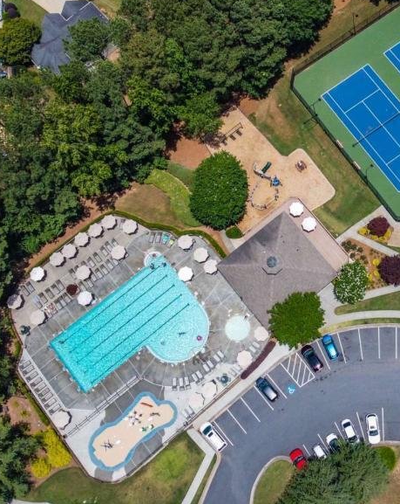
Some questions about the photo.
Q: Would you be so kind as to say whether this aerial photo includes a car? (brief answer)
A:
Yes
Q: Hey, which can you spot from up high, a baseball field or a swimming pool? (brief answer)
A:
swimming pool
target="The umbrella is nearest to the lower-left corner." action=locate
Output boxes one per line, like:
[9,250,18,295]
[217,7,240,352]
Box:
[53,409,70,427]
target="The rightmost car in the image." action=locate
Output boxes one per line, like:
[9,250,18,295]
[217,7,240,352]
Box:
[366,412,381,444]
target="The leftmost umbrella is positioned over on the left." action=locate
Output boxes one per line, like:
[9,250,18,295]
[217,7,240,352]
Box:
[7,293,24,310]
